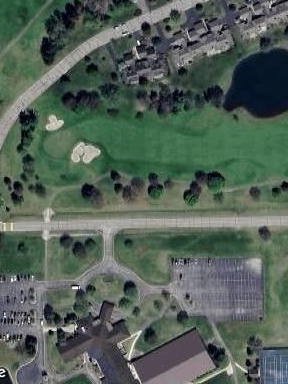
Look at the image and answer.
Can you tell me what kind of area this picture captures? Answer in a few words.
golf course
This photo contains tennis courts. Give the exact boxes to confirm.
[279,349,288,384]
[260,349,279,384]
